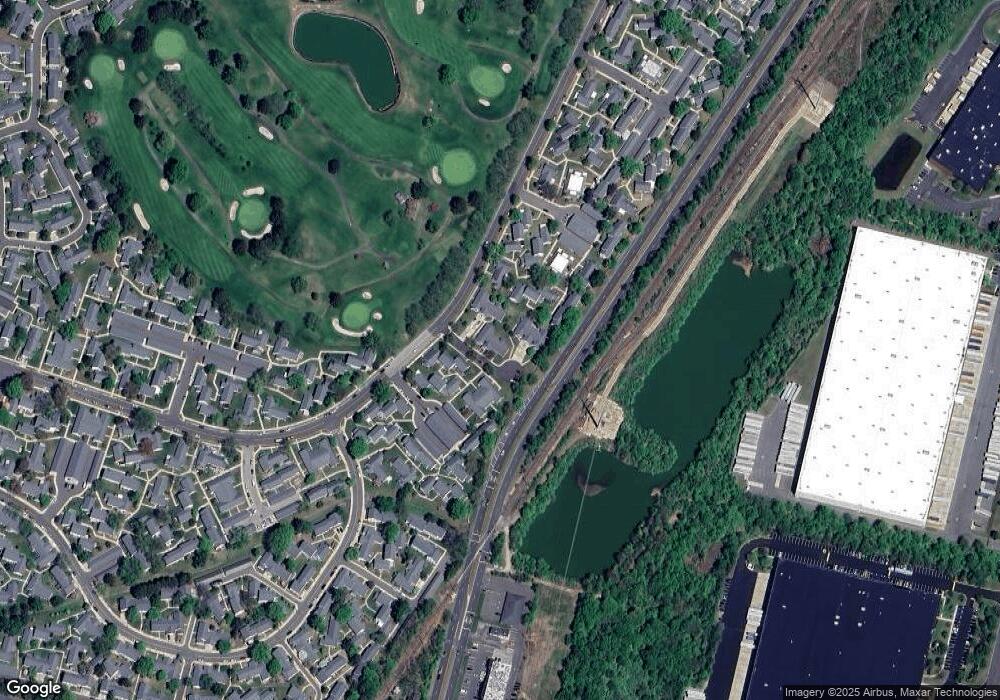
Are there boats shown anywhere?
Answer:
No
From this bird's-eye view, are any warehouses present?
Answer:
Yes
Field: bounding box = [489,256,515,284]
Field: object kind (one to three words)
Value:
house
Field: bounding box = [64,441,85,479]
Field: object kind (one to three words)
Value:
building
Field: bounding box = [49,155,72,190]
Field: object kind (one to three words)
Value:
building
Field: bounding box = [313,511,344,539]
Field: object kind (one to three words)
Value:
house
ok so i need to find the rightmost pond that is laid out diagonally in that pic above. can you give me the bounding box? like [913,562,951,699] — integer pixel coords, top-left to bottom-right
[873,134,921,189]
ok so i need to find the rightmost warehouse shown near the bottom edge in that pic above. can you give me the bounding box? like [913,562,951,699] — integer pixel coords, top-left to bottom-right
[747,556,940,700]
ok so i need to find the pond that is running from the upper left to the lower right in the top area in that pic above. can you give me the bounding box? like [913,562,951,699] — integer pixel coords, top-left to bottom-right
[294,12,398,110]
